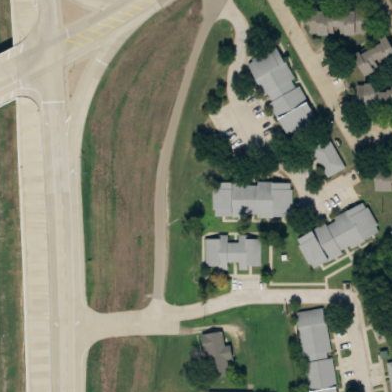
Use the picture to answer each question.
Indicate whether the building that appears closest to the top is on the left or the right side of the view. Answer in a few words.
right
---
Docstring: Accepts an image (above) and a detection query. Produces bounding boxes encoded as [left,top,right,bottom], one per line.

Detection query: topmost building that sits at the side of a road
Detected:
[306,11,364,36]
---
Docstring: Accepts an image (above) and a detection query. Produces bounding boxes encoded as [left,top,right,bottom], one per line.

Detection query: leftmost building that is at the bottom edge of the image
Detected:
[202,333,233,376]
